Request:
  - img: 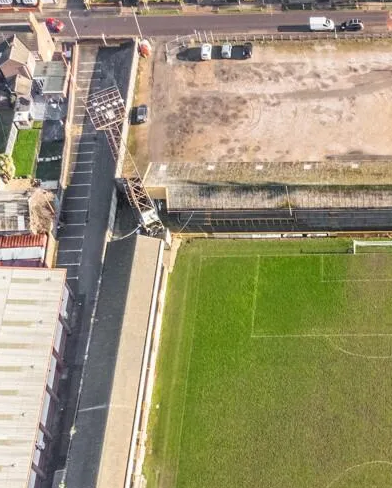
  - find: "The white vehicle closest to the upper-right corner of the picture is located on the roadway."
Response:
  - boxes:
[310,18,334,31]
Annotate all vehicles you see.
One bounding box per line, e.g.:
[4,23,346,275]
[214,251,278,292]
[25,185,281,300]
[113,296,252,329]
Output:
[241,44,253,61]
[310,18,334,31]
[200,45,212,63]
[222,46,232,61]
[136,108,148,124]
[47,19,65,34]
[343,20,363,31]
